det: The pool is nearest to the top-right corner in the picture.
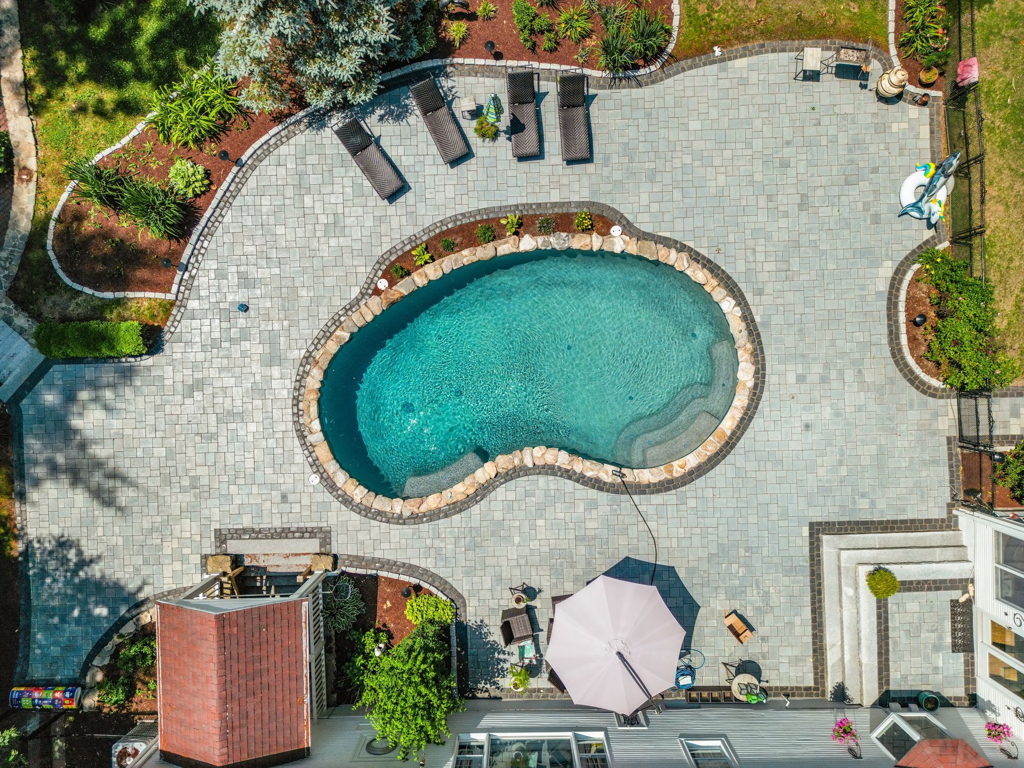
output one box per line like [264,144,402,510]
[301,230,756,516]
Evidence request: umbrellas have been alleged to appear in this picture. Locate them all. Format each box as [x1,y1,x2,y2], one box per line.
[543,573,688,717]
[474,93,503,132]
